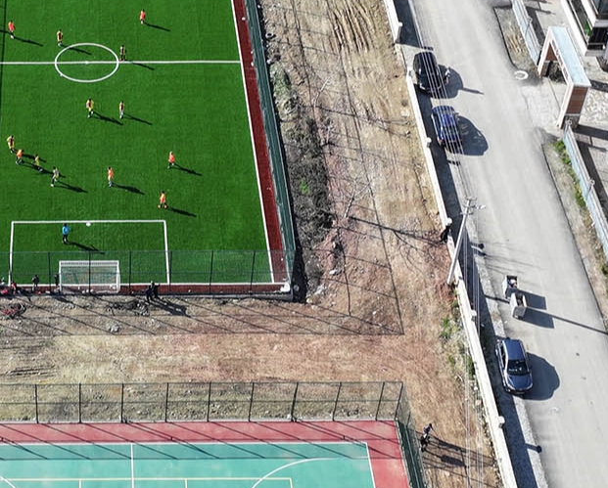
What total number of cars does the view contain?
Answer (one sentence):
In total, 3 cars can be seen.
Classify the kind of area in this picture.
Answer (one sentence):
This looks like a sports ground.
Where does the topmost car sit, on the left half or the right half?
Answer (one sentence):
It is on the right.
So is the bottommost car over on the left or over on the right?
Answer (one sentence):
It is on the right.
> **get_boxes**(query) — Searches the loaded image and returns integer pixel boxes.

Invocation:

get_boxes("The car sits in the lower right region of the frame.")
[496,334,539,390]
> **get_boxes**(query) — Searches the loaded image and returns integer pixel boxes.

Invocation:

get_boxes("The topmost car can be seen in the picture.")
[413,47,447,92]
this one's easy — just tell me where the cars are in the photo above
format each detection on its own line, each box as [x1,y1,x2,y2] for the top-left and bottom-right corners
[413,47,447,92]
[496,334,539,390]
[432,105,469,147]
